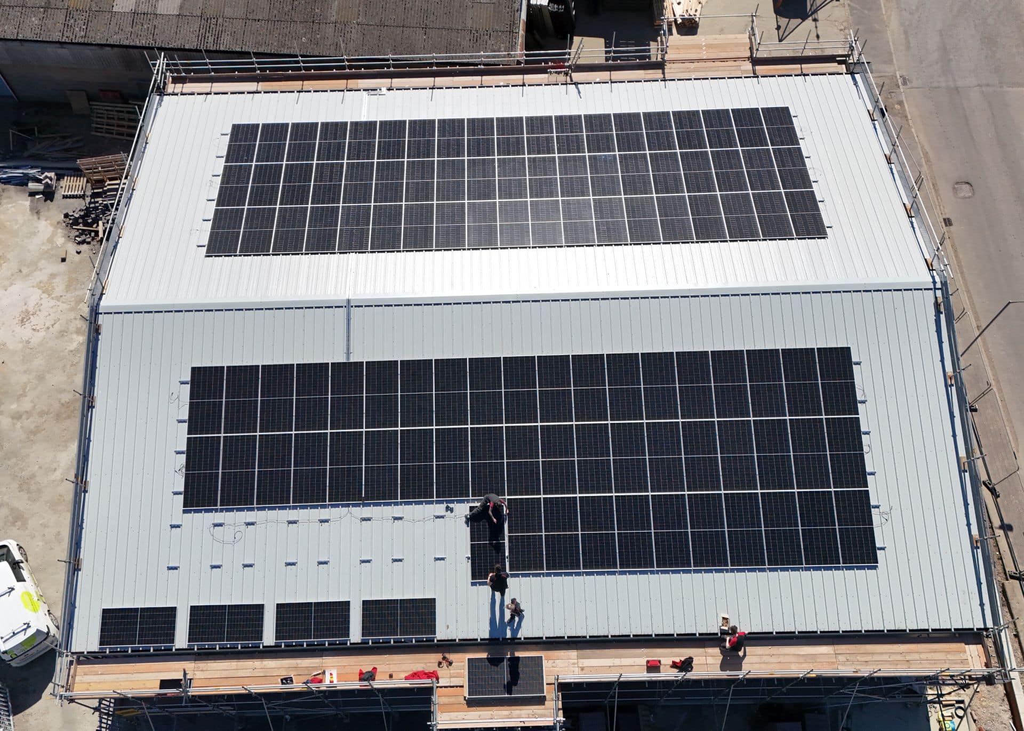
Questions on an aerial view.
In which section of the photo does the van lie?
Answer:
bottom left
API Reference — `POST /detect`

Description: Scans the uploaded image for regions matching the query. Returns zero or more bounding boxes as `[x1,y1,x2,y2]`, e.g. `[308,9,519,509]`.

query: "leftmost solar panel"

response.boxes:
[99,607,177,647]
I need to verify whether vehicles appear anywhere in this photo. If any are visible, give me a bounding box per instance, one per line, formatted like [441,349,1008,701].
[0,535,59,672]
